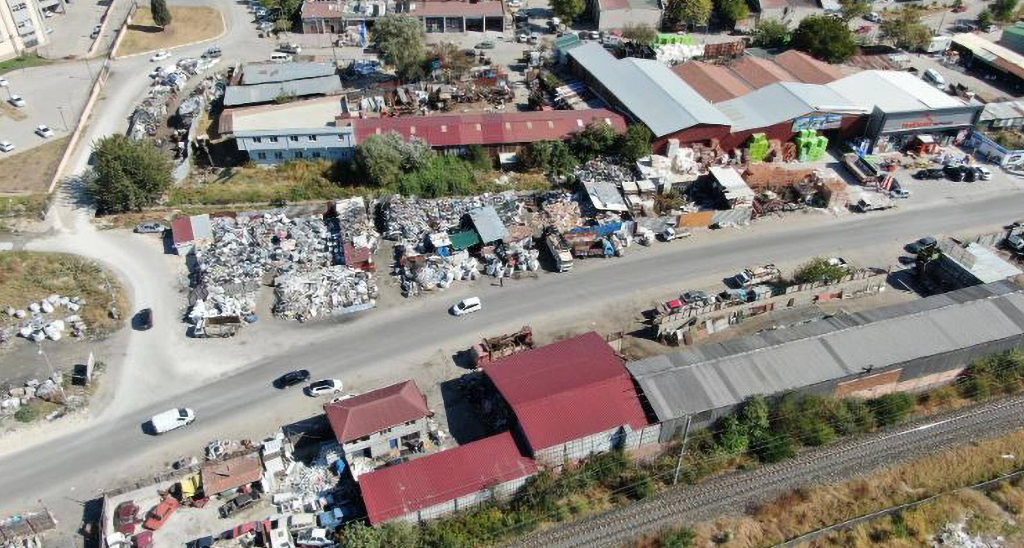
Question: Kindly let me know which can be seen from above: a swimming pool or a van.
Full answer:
I can see a van in this picture.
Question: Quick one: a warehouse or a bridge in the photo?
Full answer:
Of the two, only a warehouse appears.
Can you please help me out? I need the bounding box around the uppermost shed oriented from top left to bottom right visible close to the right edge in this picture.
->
[947,32,1024,106]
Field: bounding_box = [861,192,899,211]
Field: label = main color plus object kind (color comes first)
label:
white vehicle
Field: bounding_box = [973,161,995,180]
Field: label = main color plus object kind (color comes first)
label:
white car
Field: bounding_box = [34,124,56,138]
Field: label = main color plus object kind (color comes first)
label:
white car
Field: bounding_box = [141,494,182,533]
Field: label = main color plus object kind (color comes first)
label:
red car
